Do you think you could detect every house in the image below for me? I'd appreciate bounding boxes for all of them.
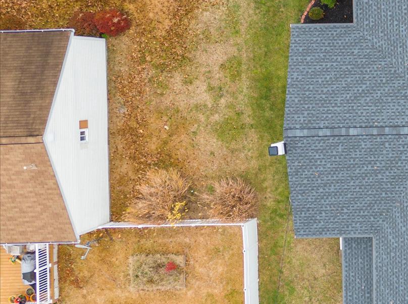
[0,27,110,247]
[270,0,408,304]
